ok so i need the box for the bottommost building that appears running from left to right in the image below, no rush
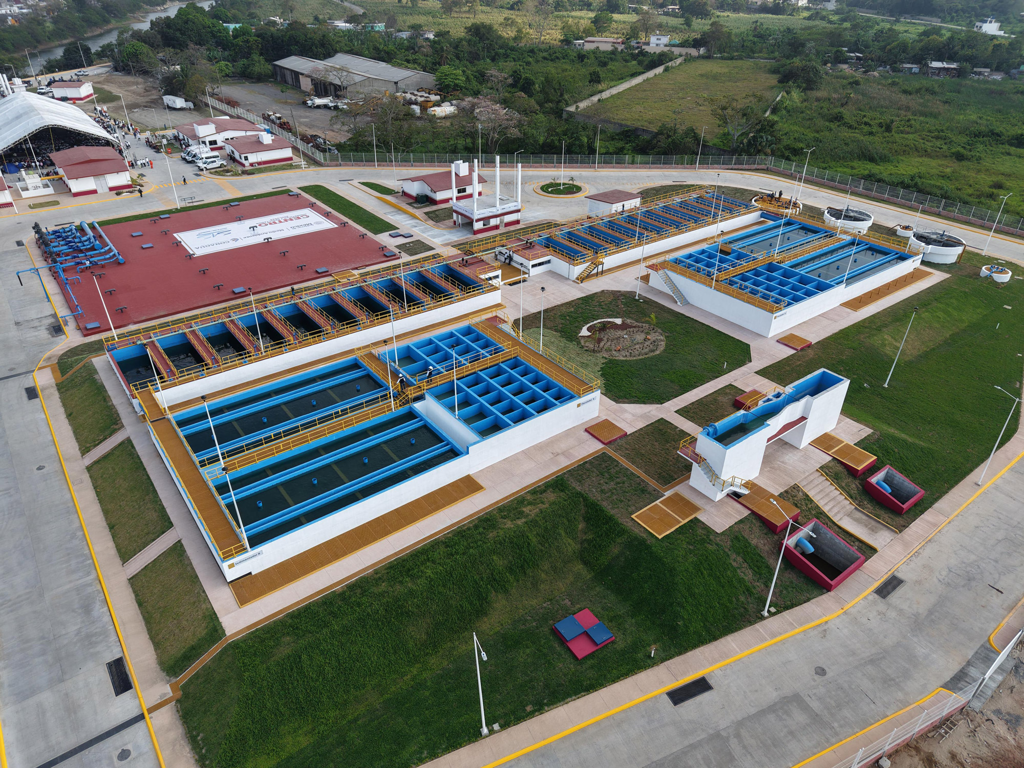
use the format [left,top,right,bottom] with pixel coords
[99,249,502,418]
